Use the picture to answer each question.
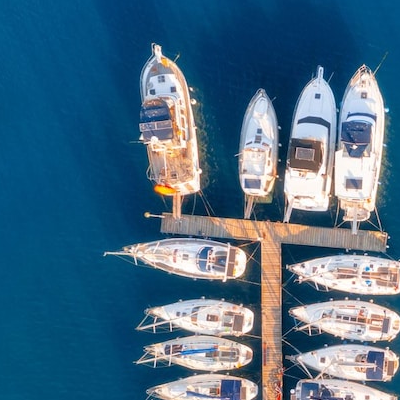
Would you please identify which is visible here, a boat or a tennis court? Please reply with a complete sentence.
Visible in the photo is a boat.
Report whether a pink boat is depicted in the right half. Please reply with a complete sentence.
No, no pink boat can be made out in the right half.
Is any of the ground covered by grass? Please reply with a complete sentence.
No, the scene doesn't show any grass.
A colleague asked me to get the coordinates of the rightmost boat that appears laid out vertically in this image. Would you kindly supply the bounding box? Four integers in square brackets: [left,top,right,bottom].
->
[332,60,390,234]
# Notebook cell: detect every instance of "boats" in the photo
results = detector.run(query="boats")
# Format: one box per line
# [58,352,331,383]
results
[131,299,262,338]
[101,234,263,281]
[280,62,338,227]
[152,184,177,194]
[283,340,400,381]
[283,297,400,343]
[332,60,390,234]
[141,370,262,400]
[128,334,262,373]
[283,373,400,400]
[283,250,400,298]
[125,42,209,219]
[232,85,284,226]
